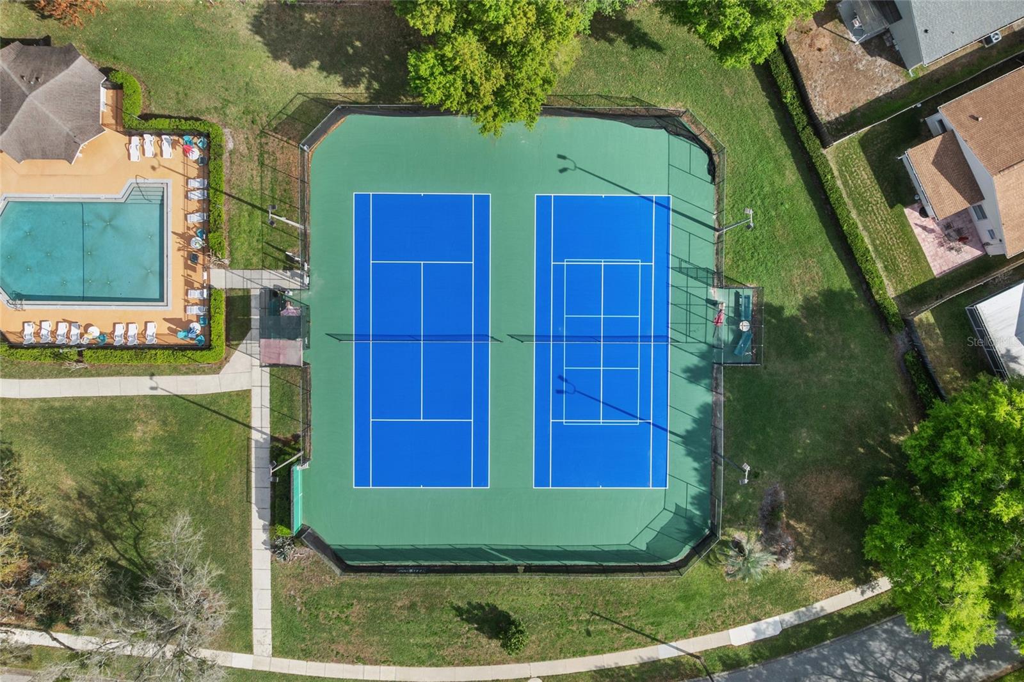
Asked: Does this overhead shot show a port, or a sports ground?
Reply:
sports ground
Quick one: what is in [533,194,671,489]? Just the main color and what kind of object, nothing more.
blue tennis court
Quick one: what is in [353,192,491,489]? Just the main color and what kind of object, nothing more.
blue tennis court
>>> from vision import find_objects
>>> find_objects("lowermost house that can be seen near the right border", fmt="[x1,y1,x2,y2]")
[966,280,1024,402]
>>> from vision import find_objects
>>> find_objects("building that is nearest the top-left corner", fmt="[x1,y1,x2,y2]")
[0,42,109,164]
